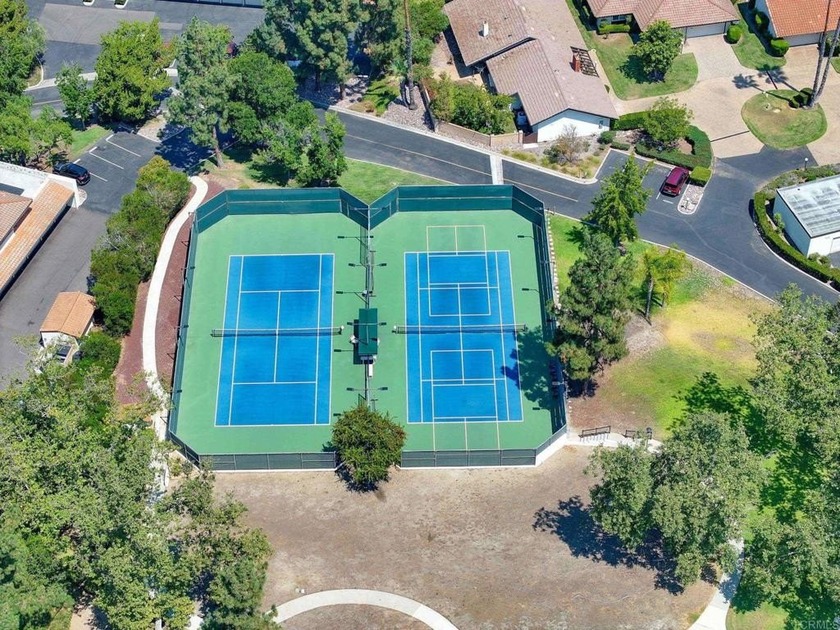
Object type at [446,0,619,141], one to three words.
house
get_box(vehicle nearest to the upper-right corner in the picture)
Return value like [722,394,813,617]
[663,166,689,199]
